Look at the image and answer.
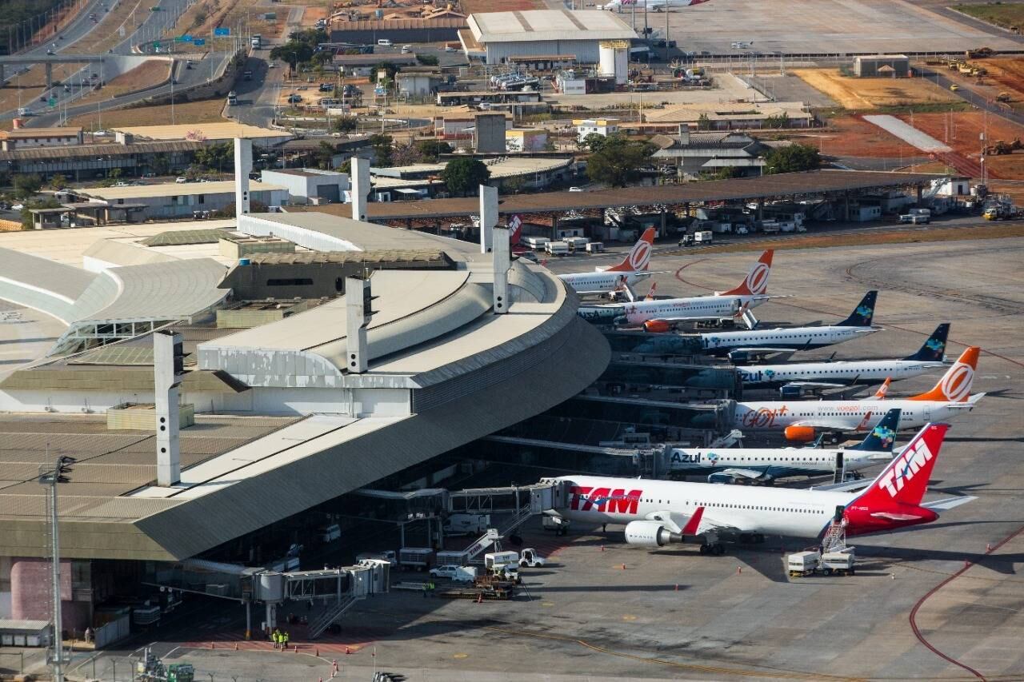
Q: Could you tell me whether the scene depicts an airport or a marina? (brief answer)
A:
airport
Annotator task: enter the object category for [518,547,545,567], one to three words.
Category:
work vehicle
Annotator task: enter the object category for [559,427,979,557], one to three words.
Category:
airplane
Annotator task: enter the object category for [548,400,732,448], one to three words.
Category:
jet bridge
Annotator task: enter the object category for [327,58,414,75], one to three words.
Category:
building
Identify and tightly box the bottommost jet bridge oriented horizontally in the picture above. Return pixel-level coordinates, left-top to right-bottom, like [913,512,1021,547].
[168,556,398,637]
